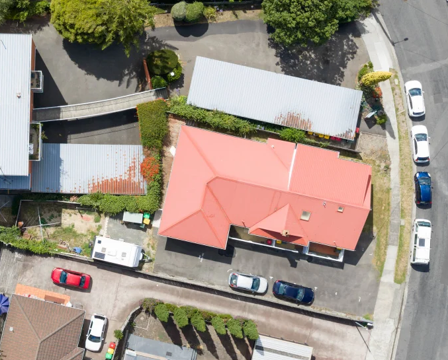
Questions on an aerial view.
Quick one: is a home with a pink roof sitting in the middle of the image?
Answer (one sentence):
Yes, looking in the middle of the image, one can make out a home with a pink roof.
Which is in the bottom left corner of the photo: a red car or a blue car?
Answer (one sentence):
What appears in the bottom left corner of the photo is a red car.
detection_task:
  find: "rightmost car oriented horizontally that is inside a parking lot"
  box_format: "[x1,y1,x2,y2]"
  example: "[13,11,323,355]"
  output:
[272,280,315,305]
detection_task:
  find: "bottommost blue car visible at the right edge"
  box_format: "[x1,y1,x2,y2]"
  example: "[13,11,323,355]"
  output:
[412,172,433,206]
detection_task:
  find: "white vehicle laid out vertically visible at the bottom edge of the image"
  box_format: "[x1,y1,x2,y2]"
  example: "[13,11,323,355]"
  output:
[86,313,107,353]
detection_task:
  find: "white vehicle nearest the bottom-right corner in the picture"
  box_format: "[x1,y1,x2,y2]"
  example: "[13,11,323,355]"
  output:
[409,219,436,268]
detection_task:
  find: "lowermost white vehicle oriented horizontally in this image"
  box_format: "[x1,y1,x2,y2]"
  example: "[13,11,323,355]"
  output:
[227,273,269,295]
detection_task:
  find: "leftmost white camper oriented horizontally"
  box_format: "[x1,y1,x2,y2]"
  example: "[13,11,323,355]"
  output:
[91,235,151,267]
